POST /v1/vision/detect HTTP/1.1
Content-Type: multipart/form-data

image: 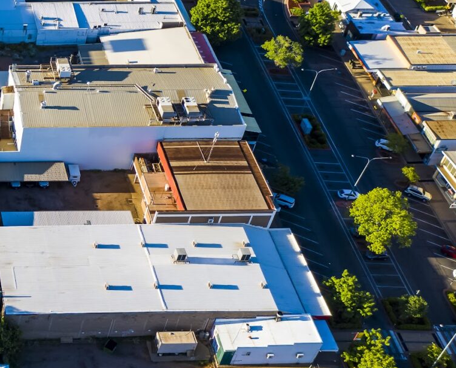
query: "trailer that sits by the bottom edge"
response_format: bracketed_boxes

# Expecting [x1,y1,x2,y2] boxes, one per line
[154,330,200,359]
